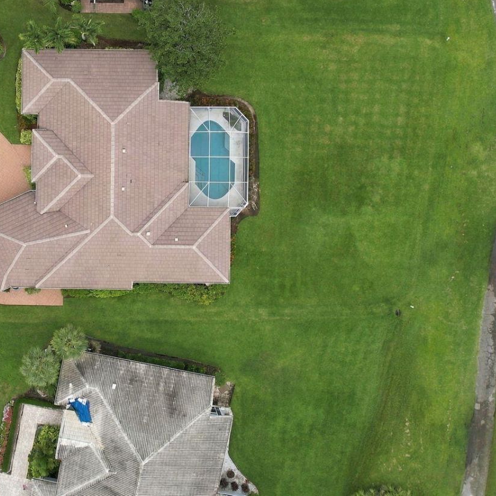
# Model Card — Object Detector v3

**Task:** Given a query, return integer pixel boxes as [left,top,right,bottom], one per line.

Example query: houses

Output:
[0,48,231,293]
[27,350,233,496]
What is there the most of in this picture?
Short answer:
grass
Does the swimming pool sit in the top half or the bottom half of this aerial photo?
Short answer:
top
